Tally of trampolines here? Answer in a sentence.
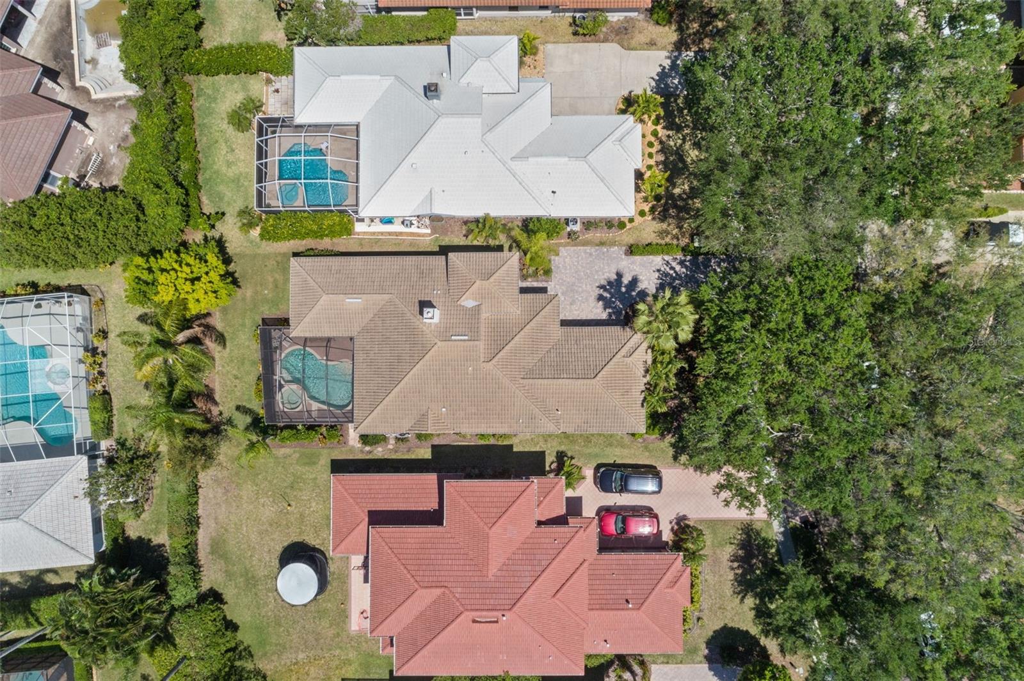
Just 1 trampoline appears in this view.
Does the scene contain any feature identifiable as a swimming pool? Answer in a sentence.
Yes, the picture does show a swimming pool.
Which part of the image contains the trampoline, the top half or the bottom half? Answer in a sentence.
The bottom half of the photo is where the trampoline is.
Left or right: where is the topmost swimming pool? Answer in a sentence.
The topmost swimming pool is on the left side of the image.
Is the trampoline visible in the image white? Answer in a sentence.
Yes, the trampoline is indeed white.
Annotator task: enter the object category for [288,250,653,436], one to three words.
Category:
house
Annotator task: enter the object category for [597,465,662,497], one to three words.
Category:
car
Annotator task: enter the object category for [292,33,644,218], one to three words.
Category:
house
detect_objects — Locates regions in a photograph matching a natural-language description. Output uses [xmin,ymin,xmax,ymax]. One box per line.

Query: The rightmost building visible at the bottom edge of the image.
[329,472,693,678]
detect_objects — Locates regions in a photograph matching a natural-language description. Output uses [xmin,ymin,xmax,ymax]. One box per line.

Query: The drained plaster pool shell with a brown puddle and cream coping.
[69,0,150,100]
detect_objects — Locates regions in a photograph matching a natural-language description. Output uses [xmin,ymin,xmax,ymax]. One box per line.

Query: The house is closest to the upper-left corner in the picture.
[0,0,87,202]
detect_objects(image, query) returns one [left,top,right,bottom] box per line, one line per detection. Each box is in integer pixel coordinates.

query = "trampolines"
[276,550,330,605]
